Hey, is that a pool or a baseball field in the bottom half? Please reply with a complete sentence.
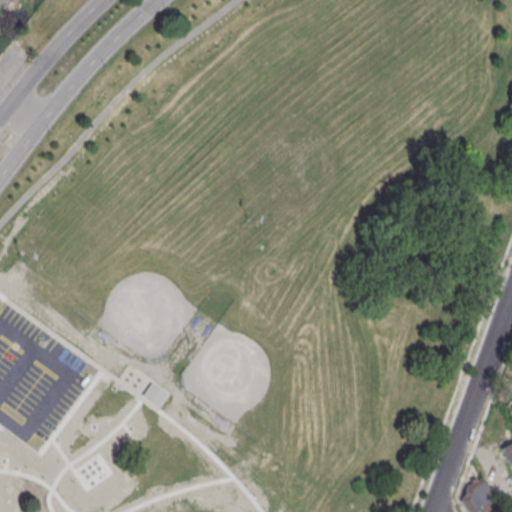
The feature located in the bottom half is a baseball field.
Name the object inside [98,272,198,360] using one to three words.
baseball field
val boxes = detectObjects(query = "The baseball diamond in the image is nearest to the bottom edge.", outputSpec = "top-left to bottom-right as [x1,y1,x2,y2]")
[182,326,271,423]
